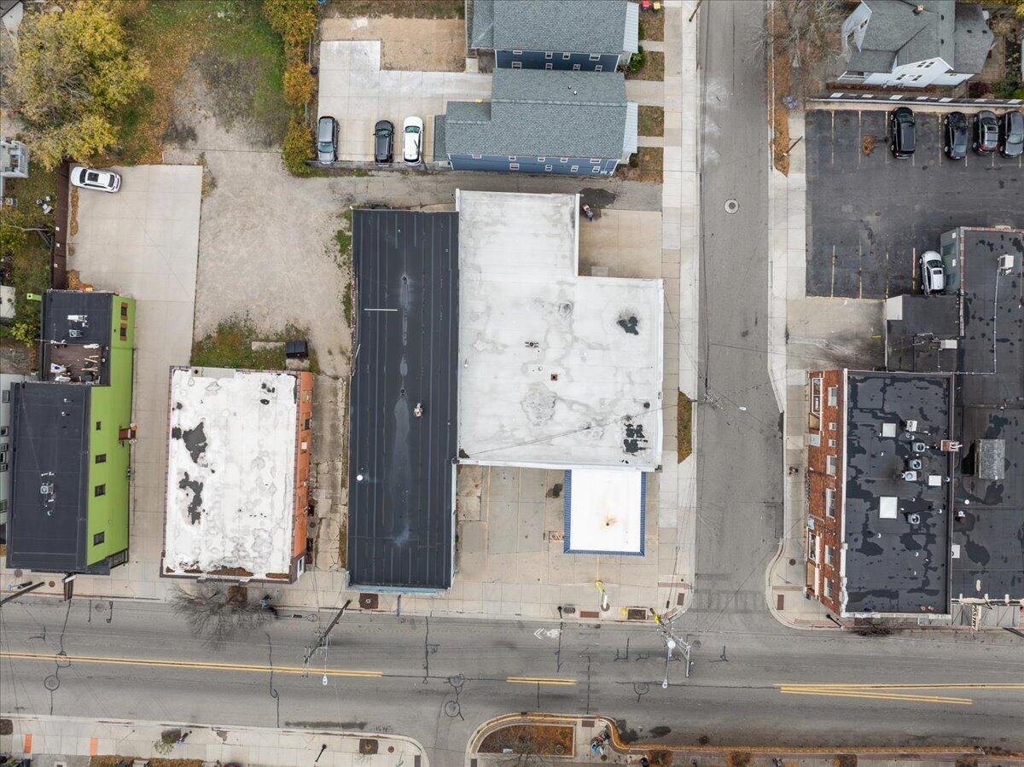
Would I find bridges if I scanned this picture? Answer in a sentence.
No, there appears to be no bridge in this shot.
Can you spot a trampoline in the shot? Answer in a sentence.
No, there is no trampoline in the image.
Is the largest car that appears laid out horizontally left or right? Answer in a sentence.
The largest car that appears laid out horizontally is on the left side of the image.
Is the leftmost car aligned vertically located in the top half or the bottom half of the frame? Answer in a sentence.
The leftmost car aligned vertically is in the top half of the image.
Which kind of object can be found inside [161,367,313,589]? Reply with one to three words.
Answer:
building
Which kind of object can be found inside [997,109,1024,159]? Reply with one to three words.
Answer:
car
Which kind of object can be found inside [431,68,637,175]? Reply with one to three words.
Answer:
house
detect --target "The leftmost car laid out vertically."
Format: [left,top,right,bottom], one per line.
[315,114,339,165]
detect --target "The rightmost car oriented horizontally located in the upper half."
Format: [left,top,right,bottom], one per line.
[70,164,121,191]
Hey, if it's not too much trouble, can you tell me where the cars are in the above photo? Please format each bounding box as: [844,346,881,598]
[997,109,1024,159]
[70,164,121,191]
[942,110,968,160]
[372,118,395,165]
[401,117,423,165]
[315,114,339,165]
[919,251,946,295]
[971,110,998,157]
[889,107,917,158]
